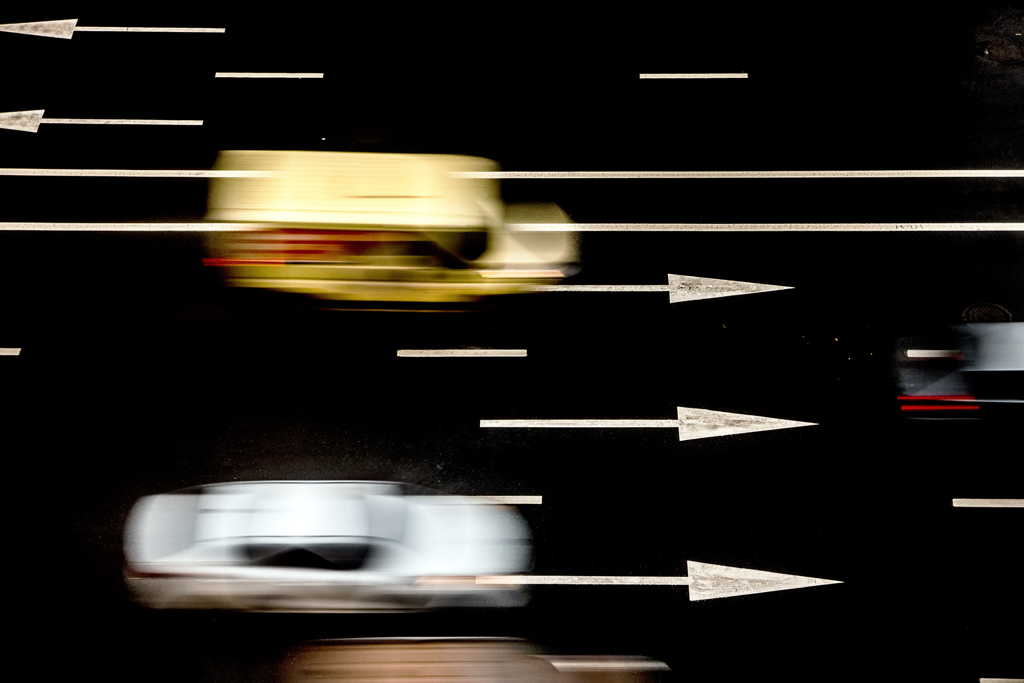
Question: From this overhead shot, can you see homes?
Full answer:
No, there's no home here.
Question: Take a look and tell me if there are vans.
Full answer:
Yes, this view includes a van.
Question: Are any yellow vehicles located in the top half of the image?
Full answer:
Yes, in the top half of the image there is a yellow vehicle.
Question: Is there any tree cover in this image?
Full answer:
No, tree cover can't be seen anywhere here.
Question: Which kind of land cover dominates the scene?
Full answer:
Most of the picture is covered by paved ground.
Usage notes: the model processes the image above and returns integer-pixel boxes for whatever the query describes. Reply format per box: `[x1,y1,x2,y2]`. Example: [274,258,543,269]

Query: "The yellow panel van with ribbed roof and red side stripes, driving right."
[210,148,579,313]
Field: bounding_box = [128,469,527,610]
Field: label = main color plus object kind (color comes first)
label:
white car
